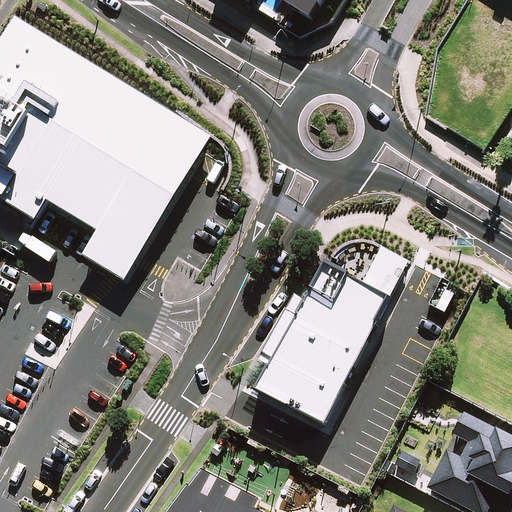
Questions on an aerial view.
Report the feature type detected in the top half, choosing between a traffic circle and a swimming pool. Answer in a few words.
traffic circle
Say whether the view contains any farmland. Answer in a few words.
No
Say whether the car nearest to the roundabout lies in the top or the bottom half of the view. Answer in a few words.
top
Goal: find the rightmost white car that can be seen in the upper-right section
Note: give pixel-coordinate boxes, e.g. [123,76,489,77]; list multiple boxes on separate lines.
[366,104,388,125]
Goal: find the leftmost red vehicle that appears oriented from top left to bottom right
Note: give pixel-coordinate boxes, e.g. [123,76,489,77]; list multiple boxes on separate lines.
[6,393,27,410]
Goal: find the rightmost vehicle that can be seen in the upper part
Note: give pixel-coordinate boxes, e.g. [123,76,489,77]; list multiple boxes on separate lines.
[426,194,449,214]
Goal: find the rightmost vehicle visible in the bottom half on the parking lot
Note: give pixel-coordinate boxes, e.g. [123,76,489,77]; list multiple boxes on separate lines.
[418,317,442,336]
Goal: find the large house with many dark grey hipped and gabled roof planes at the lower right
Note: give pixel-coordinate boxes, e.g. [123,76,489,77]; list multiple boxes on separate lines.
[428,412,512,512]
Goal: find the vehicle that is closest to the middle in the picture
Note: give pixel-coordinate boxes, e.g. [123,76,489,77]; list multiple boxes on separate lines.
[272,252,288,274]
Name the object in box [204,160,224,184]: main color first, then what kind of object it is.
white vehicle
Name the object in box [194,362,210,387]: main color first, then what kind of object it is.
white car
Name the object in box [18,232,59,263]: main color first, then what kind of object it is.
white truck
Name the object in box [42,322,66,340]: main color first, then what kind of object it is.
black car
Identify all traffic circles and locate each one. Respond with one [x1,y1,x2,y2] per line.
[298,94,364,160]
